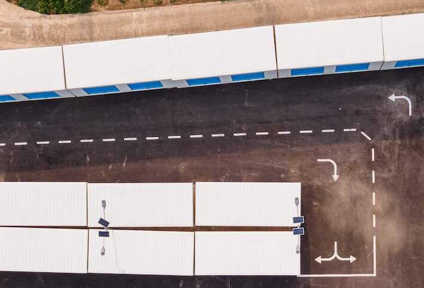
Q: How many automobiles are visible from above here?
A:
0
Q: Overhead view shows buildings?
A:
No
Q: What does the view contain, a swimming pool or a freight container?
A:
freight container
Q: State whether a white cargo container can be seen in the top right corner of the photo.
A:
Yes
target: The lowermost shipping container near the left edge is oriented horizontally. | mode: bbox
[0,227,90,272]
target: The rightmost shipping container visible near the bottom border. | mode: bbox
[195,232,301,276]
